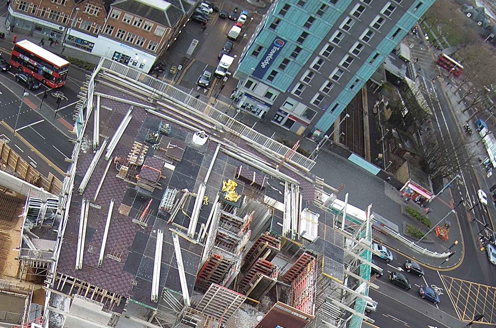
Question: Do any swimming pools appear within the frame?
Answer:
No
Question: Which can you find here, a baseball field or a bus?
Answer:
bus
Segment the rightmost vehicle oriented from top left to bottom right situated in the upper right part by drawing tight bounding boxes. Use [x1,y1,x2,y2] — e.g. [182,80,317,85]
[437,52,466,77]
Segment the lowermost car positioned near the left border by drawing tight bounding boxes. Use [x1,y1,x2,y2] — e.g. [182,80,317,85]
[15,72,42,88]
